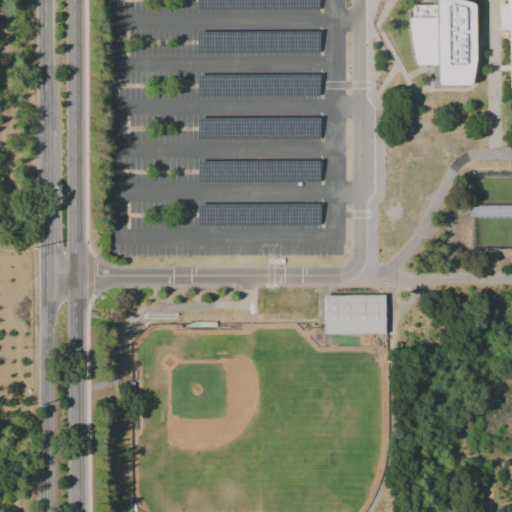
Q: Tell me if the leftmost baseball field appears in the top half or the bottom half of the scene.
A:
bottom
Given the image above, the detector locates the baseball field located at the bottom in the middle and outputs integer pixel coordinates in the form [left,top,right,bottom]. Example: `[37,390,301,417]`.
[134,323,390,512]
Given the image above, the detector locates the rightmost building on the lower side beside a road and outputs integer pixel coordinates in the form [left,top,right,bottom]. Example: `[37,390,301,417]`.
[326,294,387,334]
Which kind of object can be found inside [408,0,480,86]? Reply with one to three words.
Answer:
building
